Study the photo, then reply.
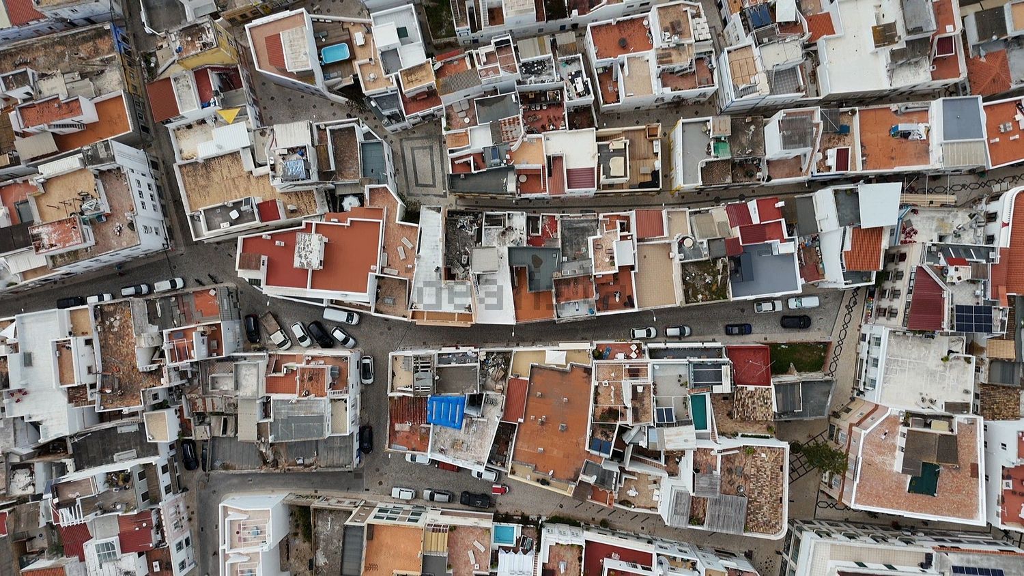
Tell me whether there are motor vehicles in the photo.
Yes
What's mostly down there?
buildings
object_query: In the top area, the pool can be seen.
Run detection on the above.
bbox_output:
[323,45,348,62]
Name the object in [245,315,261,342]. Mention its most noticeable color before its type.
black car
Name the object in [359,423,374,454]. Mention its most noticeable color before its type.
black car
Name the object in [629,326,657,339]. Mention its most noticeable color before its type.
white vehicle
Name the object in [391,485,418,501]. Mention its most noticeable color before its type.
white vehicle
